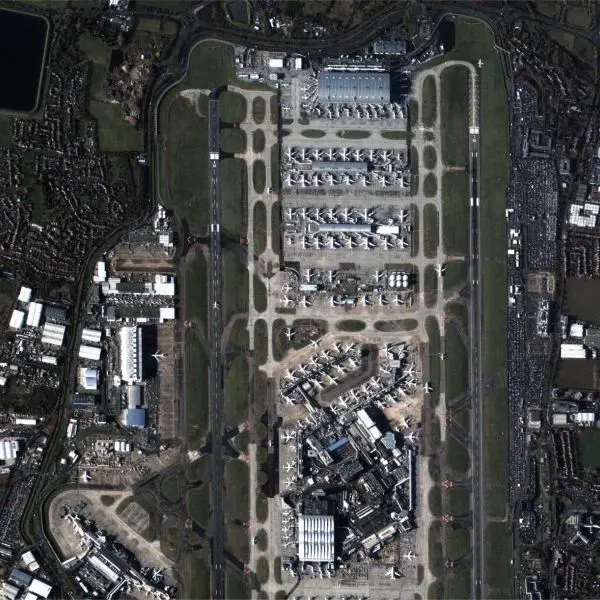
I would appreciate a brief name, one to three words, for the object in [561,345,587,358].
building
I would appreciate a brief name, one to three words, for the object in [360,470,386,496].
building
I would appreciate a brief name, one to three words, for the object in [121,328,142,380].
hangar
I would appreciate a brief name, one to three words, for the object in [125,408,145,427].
hangar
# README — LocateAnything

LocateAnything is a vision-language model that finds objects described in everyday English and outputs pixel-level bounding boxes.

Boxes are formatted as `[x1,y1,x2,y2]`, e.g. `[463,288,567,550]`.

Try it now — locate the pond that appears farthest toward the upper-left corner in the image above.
[0,9,47,111]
